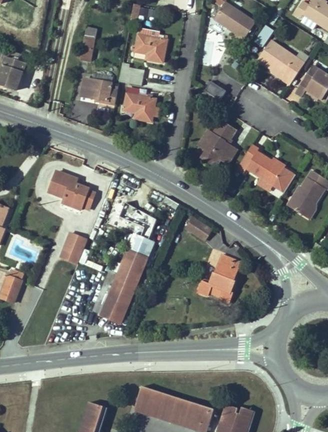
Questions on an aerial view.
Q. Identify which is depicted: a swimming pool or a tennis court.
swimming pool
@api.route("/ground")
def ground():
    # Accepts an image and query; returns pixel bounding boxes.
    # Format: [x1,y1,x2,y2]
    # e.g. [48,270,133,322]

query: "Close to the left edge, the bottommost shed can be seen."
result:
[0,270,24,303]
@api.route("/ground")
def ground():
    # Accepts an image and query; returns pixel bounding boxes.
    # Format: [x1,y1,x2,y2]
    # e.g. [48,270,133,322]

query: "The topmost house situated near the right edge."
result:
[298,0,328,32]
